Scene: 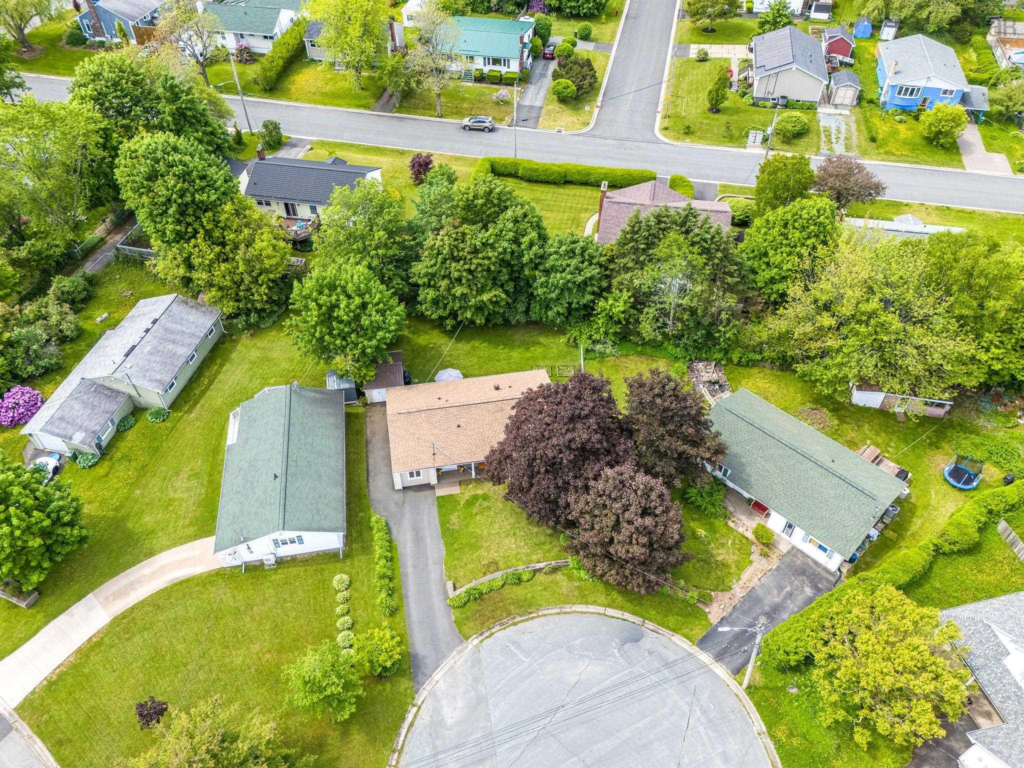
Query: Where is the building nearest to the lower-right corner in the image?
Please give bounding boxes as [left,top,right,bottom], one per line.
[938,594,1024,768]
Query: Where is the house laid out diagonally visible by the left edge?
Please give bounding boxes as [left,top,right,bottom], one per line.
[18,295,231,459]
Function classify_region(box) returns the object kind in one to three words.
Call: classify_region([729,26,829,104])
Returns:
house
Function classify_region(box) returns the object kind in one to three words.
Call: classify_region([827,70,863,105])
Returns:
shed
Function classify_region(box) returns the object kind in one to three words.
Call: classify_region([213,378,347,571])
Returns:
house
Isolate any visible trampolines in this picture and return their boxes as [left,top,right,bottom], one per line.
[943,447,992,489]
